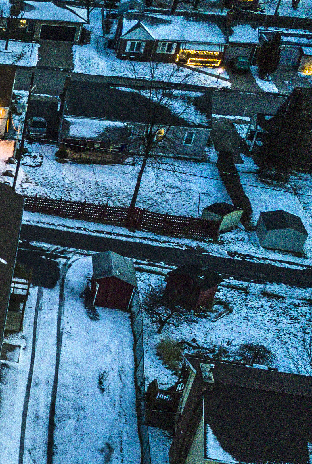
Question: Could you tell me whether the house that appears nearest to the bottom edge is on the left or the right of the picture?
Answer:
right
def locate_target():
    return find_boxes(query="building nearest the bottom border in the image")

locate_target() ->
[159,333,312,464]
